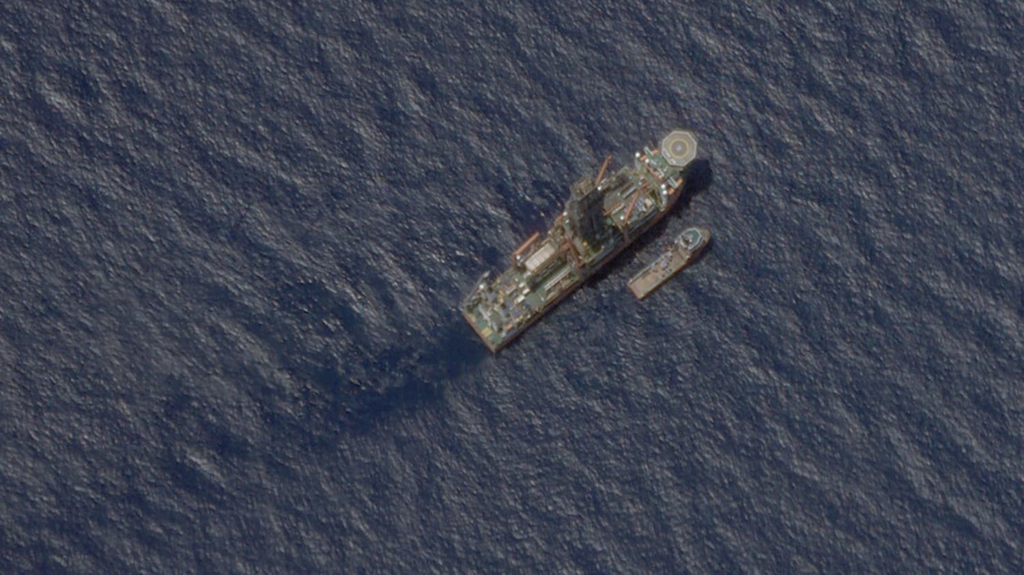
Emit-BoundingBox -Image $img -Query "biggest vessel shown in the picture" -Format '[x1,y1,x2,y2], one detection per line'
[463,129,698,352]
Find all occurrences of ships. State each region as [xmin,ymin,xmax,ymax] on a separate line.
[463,129,698,352]
[628,226,709,301]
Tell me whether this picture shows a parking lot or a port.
port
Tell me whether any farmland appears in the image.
No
